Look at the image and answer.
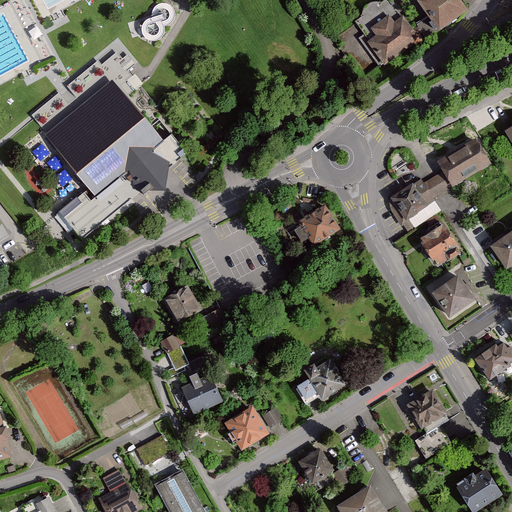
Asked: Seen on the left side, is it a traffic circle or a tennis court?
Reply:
tennis court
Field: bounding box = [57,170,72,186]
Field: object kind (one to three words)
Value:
umbrella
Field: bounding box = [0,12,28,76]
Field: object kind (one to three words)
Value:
swimming pool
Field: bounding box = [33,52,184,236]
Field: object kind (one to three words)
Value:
building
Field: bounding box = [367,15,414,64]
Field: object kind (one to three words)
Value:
house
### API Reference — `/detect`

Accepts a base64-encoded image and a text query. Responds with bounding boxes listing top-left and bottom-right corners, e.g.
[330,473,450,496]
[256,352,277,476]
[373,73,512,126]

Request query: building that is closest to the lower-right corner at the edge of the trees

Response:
[456,468,503,512]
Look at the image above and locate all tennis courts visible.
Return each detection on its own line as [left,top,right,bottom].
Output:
[13,368,98,458]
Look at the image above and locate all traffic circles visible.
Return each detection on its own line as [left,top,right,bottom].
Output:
[312,128,372,187]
